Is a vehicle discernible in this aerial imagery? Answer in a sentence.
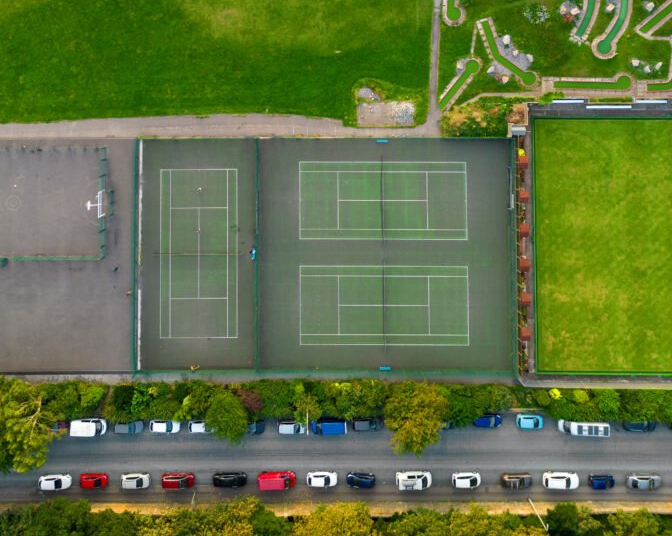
Yes, the image includes a vehicle.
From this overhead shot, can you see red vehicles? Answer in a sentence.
Yes, the photo shows a red vehicle.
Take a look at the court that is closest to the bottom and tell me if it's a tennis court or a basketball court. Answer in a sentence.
It turns out the court that is closest to the bottom is a tennis court.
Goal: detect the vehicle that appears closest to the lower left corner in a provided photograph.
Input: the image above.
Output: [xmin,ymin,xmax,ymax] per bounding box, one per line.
[40,473,71,491]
